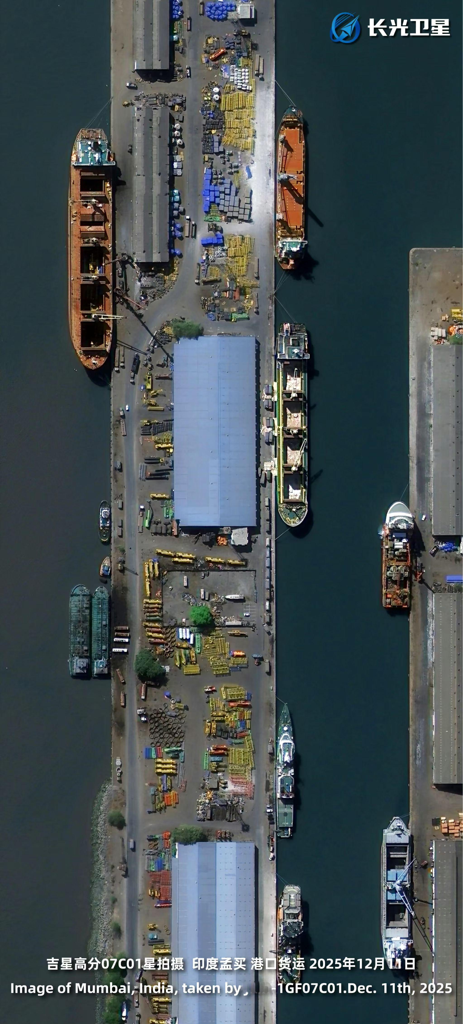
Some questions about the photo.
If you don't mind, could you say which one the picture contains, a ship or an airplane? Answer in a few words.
ship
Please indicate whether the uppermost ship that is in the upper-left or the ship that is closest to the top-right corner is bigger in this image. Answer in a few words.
the uppermost ship that is in the upper-left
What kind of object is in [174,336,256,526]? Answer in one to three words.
building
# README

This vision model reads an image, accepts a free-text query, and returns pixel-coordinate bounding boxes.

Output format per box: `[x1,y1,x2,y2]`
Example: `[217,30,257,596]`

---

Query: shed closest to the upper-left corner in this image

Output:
[135,0,169,70]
